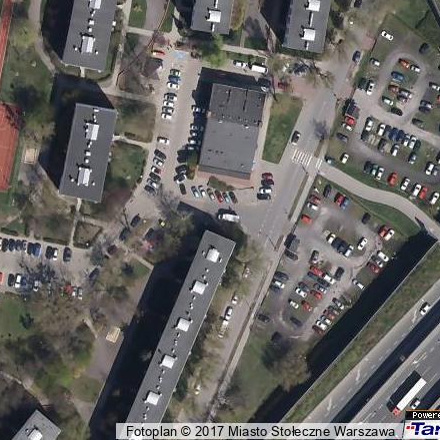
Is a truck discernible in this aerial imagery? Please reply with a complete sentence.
Yes, a truck appears in the view.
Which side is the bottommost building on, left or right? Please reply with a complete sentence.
It is on the left.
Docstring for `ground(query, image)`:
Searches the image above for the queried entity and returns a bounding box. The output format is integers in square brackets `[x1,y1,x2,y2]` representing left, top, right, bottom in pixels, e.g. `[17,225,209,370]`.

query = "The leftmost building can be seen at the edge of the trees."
[14,409,65,440]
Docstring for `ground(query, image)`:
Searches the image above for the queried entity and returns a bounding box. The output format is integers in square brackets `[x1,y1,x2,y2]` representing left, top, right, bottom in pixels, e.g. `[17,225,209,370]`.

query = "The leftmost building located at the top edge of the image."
[64,0,120,73]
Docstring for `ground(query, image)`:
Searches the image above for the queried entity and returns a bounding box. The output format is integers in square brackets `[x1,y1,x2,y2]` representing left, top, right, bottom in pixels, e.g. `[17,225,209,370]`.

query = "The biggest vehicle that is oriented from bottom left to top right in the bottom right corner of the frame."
[390,380,427,414]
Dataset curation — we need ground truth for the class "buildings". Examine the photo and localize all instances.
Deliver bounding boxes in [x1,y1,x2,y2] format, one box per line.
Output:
[14,409,65,440]
[199,83,267,179]
[64,0,120,73]
[280,0,333,54]
[188,0,236,35]
[60,103,119,203]
[118,230,237,440]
